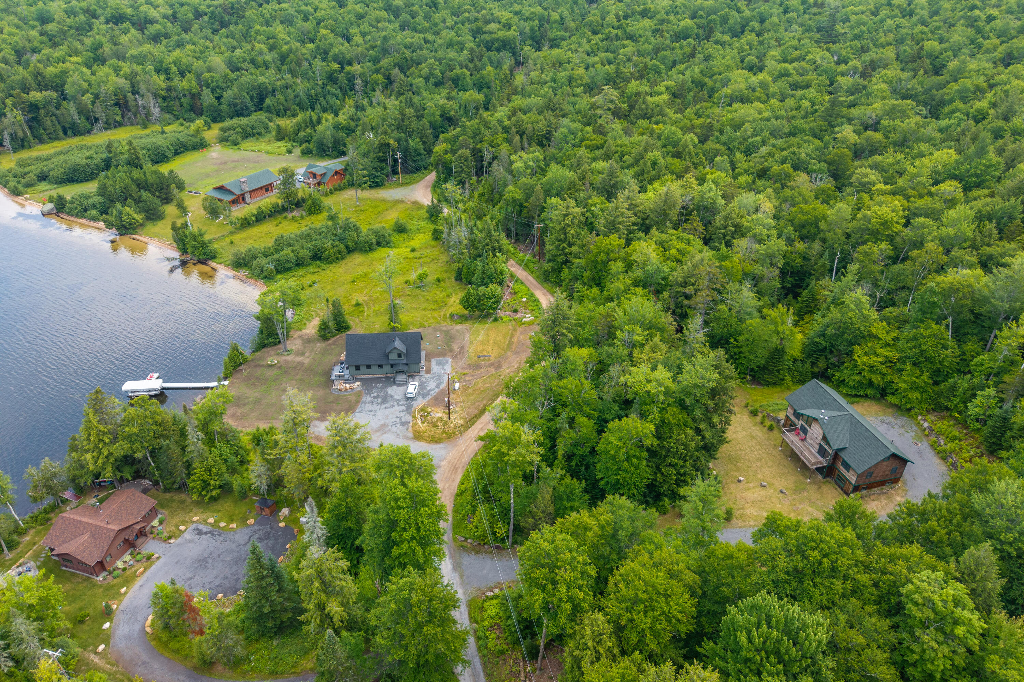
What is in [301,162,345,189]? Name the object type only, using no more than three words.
house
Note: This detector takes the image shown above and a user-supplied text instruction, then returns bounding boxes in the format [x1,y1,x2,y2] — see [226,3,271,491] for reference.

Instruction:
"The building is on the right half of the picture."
[778,379,915,492]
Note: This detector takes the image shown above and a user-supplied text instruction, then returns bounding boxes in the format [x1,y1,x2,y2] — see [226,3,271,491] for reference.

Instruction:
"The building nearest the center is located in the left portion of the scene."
[330,332,423,384]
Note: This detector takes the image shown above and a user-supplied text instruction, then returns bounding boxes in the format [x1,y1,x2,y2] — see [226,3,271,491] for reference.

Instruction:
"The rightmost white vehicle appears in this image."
[405,381,419,398]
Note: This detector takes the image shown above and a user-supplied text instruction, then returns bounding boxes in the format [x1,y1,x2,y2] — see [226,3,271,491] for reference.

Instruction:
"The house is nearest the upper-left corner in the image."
[205,168,281,209]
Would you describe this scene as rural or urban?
rural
